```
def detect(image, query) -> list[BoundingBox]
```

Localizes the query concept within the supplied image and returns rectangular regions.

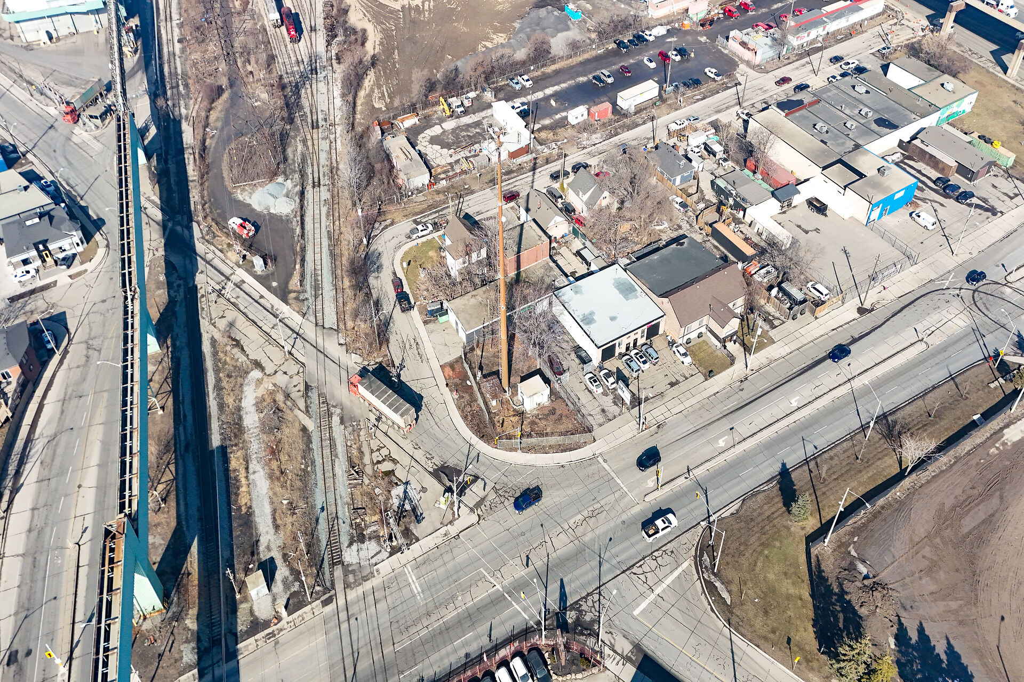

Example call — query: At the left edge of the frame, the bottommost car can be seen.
[41,330,57,350]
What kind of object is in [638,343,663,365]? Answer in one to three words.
car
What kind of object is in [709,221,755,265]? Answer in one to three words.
shipping container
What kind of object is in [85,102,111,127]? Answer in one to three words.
shed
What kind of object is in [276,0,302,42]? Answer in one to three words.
rail car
